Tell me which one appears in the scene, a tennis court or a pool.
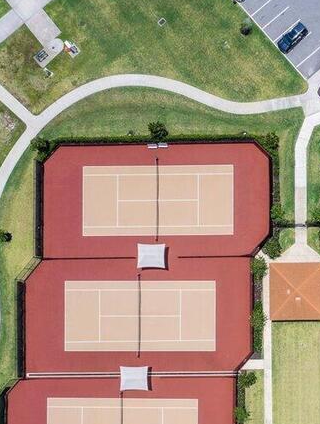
tennis court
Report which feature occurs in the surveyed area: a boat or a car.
car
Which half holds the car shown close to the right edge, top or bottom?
top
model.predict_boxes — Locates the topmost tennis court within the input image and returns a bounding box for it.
[42,142,268,257]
